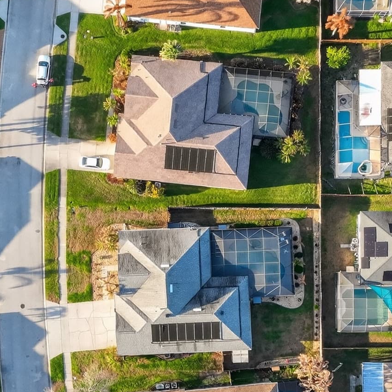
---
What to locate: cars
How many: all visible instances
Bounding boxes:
[78,155,111,170]
[35,55,52,88]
